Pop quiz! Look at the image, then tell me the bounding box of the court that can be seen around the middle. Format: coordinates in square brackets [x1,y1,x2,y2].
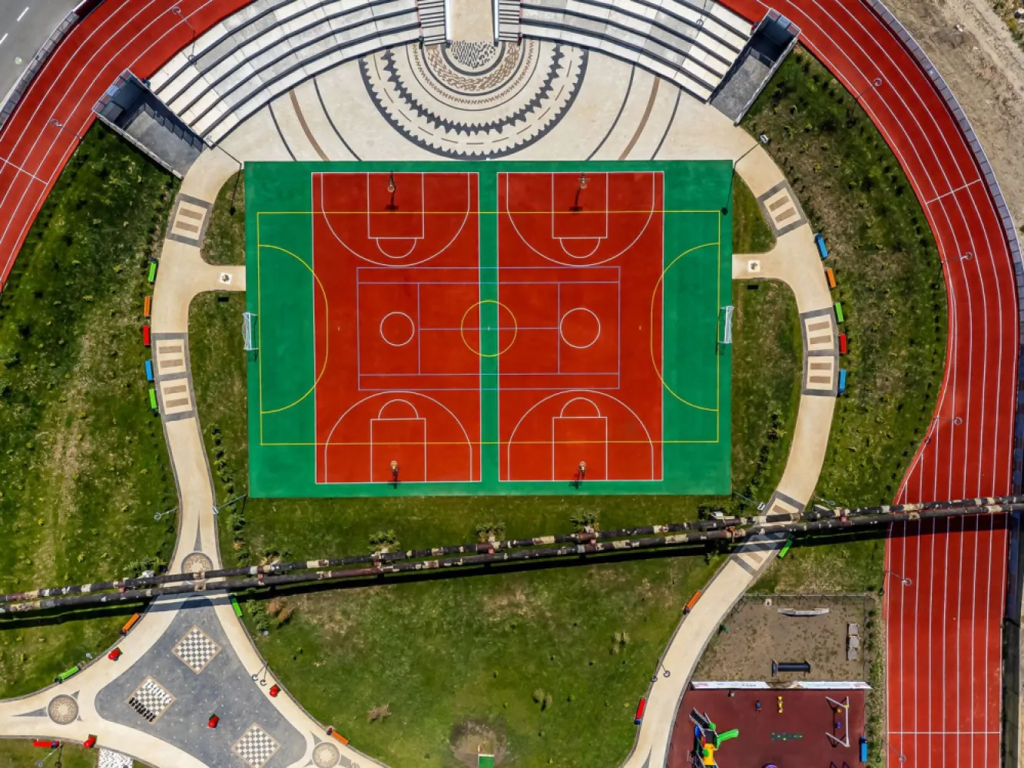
[244,160,732,498]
